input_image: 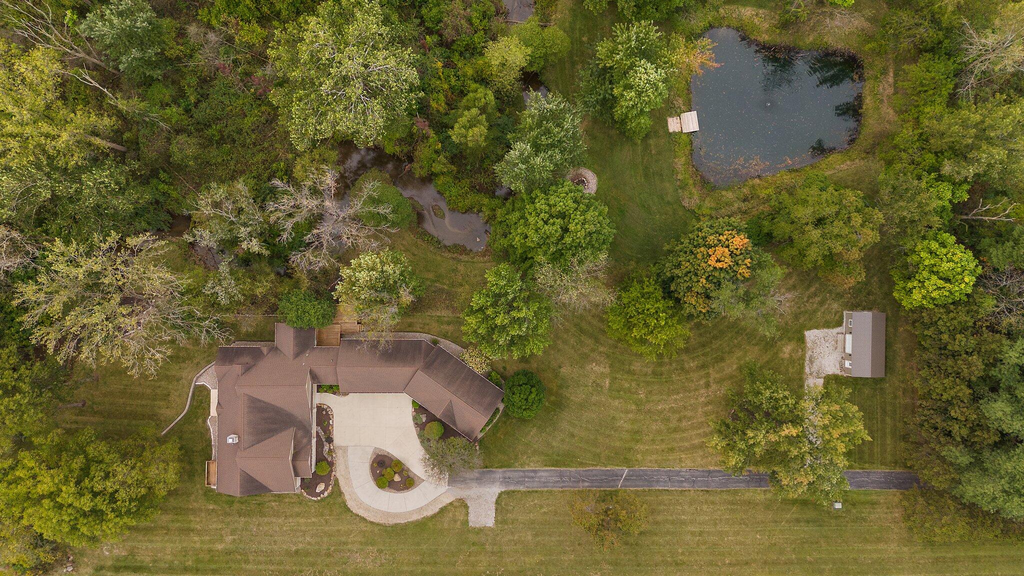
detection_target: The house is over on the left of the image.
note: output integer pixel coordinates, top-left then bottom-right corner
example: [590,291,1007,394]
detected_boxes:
[213,322,506,496]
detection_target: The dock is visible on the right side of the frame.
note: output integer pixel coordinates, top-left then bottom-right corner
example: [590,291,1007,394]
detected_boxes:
[680,110,700,132]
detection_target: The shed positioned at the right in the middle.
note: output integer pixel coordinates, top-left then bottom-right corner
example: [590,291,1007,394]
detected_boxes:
[844,312,885,378]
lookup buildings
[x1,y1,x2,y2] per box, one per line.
[213,322,506,496]
[844,312,885,378]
